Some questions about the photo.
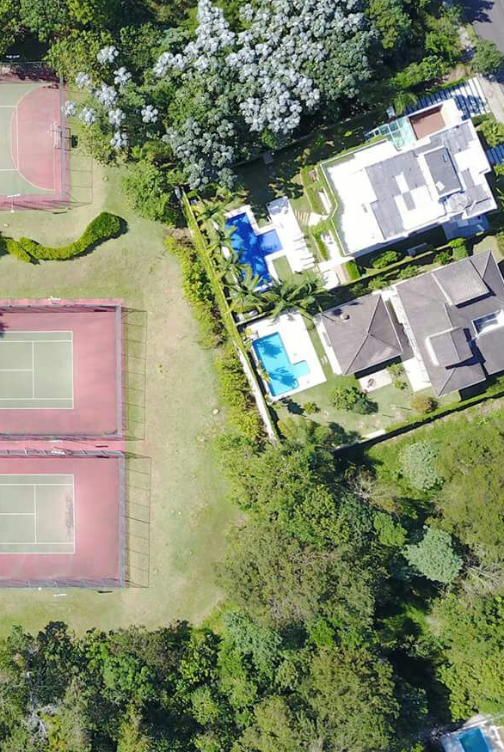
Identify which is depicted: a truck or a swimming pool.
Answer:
swimming pool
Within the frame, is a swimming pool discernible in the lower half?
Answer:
Yes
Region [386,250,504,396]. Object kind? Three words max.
house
